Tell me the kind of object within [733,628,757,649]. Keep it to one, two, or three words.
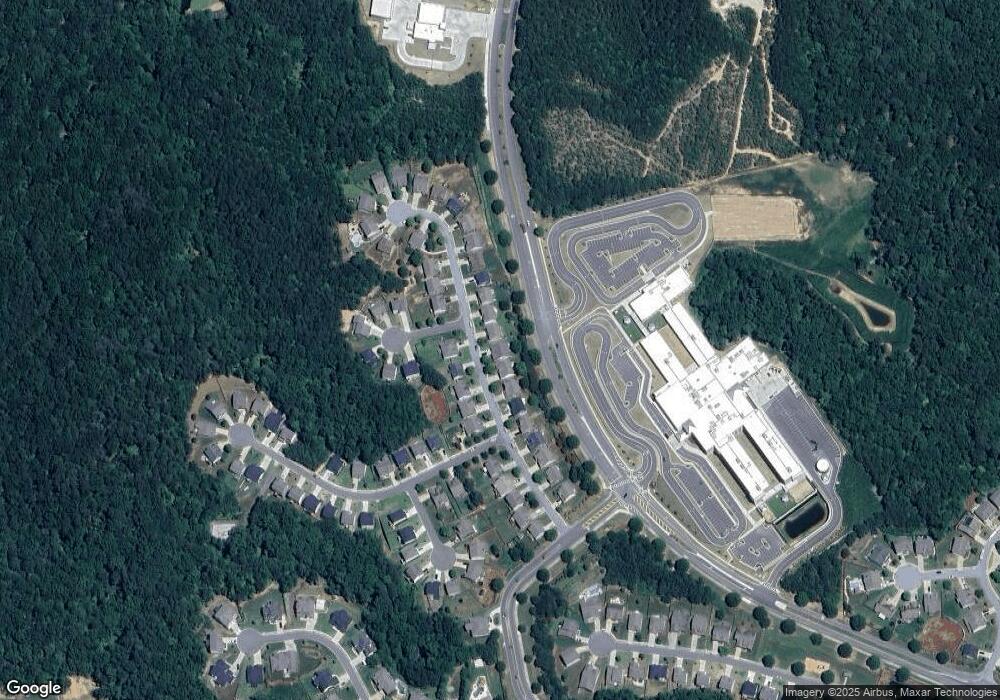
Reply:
house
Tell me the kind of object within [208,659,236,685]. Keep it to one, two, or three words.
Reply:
house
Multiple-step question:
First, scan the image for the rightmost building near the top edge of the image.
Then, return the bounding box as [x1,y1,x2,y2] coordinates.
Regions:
[414,1,446,50]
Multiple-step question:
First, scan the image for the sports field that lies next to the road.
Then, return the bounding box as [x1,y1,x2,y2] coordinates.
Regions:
[711,195,798,240]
